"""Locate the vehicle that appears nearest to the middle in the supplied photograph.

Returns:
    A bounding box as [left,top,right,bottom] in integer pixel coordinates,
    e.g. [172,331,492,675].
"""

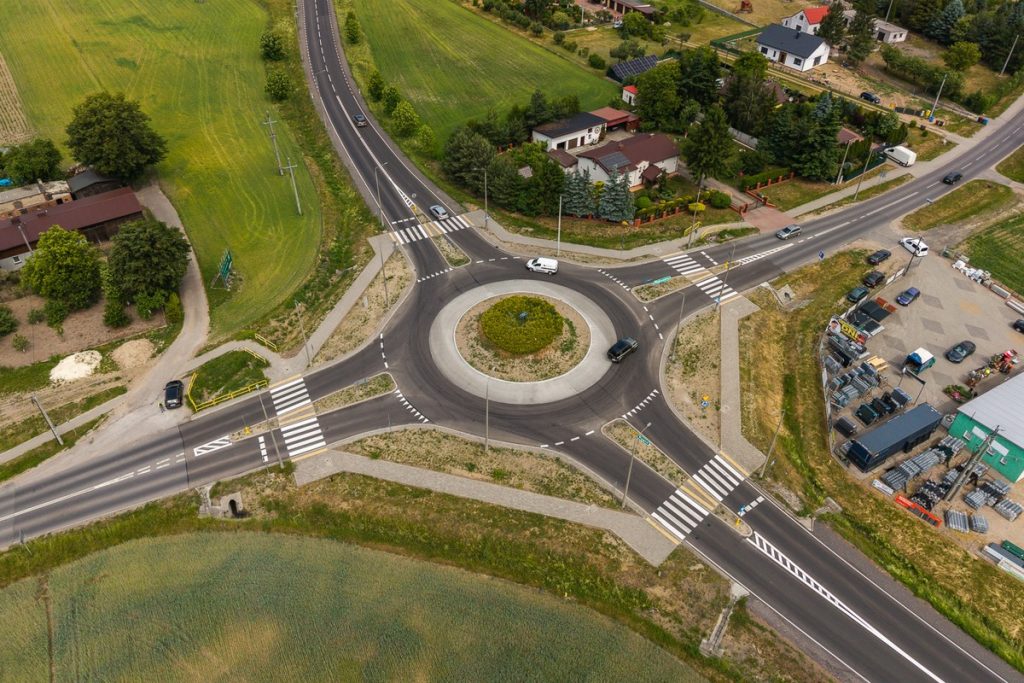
[527,255,558,272]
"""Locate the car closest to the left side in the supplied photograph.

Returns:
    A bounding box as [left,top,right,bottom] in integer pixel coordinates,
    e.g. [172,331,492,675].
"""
[160,374,182,406]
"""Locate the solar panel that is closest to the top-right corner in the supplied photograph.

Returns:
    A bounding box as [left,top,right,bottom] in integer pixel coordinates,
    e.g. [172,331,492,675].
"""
[606,46,663,80]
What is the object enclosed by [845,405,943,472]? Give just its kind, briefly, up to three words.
shipping container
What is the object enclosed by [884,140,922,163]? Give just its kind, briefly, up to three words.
vehicle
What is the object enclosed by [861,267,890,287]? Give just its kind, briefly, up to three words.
car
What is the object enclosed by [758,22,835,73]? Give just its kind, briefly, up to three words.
house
